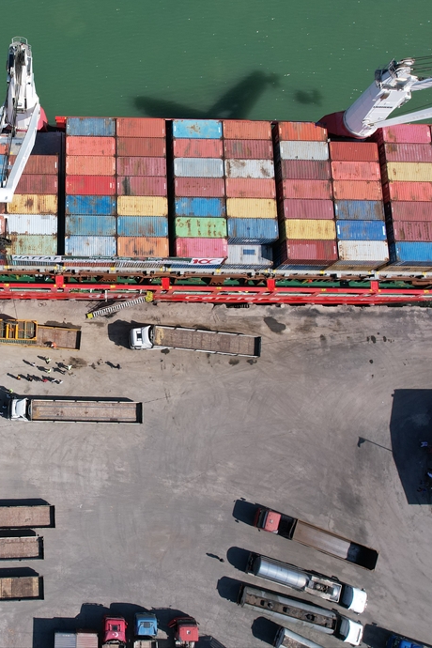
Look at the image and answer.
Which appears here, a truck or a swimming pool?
truck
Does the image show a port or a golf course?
port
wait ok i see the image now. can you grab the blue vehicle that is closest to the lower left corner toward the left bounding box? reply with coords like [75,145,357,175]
[133,608,160,648]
